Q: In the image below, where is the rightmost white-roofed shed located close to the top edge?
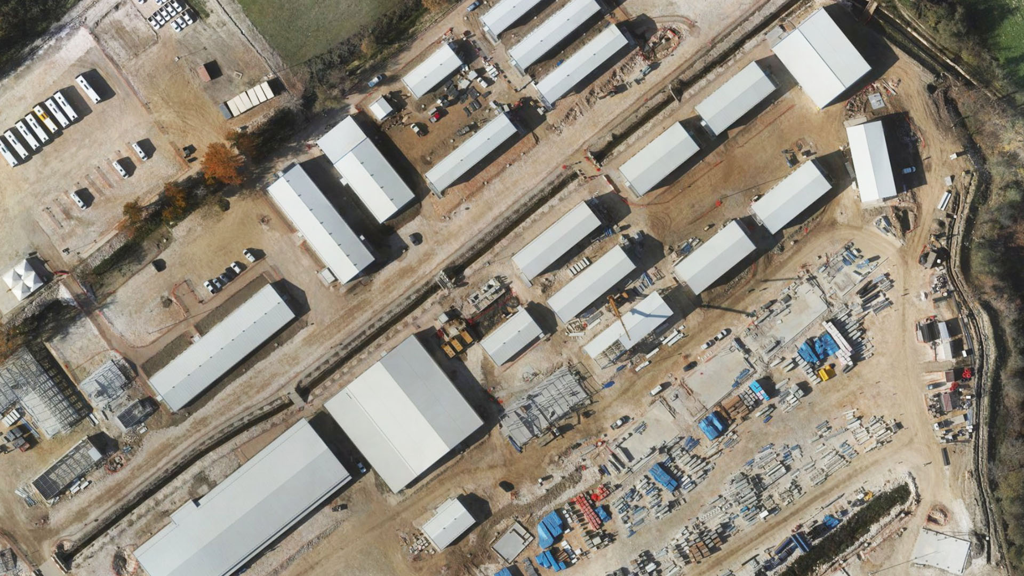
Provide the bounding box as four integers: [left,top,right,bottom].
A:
[772,7,872,109]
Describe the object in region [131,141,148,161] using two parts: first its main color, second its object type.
white vehicle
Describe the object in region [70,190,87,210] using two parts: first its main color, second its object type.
white vehicle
